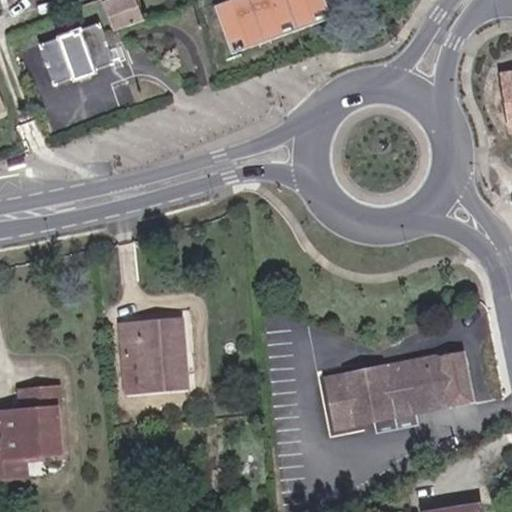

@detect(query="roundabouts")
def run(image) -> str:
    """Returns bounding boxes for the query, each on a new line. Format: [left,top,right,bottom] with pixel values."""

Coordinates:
[300,74,464,238]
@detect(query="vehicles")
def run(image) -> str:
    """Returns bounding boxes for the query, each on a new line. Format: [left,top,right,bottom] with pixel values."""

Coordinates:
[416,487,434,497]
[462,304,473,325]
[8,0,31,18]
[438,438,454,448]
[242,165,264,176]
[341,94,364,108]
[116,306,136,318]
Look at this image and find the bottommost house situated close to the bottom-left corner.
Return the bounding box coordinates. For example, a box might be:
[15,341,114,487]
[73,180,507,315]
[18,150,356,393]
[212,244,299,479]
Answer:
[0,405,65,486]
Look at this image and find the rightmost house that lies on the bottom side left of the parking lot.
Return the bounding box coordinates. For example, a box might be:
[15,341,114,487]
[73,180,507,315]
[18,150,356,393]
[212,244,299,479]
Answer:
[118,310,195,398]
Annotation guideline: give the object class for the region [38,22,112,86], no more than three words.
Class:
house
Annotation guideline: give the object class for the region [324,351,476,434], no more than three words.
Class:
building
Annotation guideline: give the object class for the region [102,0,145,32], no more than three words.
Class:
house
